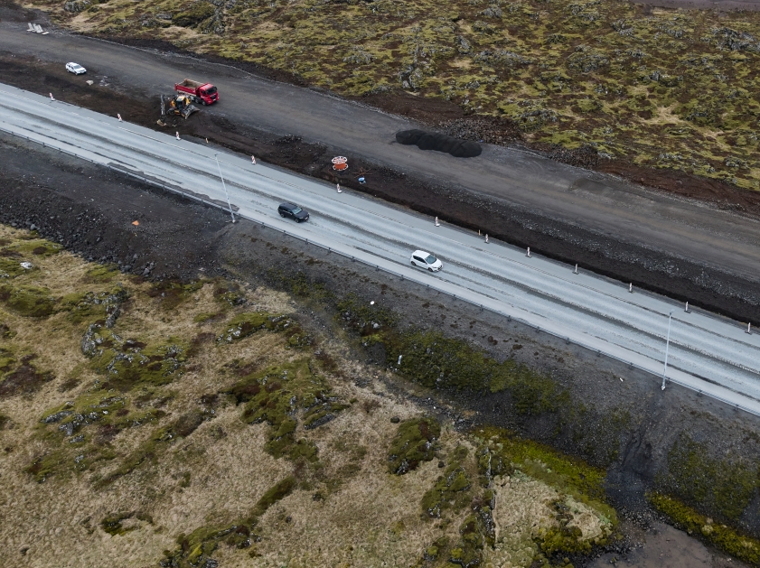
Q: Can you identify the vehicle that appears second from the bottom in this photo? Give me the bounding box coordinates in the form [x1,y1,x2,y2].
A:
[276,201,311,222]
